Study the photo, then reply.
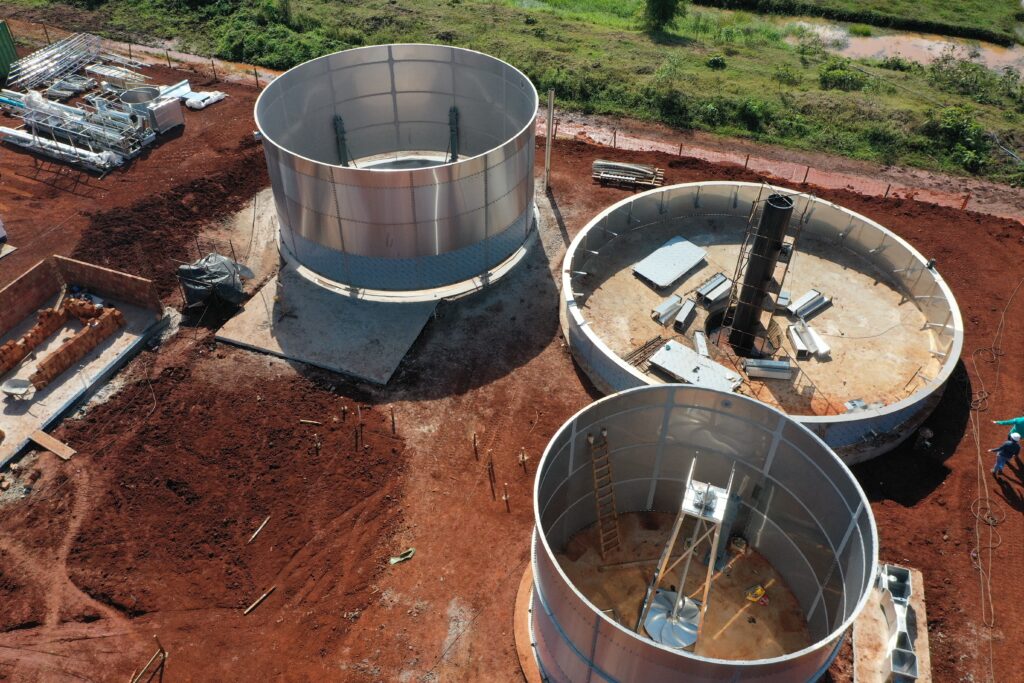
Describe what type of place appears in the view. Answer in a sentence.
It's an industrial area.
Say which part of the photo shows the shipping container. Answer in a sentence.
You can find the shipping container in the top left area of the picture.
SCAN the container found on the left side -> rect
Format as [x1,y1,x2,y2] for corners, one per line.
[0,19,25,77]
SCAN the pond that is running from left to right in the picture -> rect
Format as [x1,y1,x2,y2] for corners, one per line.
[755,18,1024,81]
